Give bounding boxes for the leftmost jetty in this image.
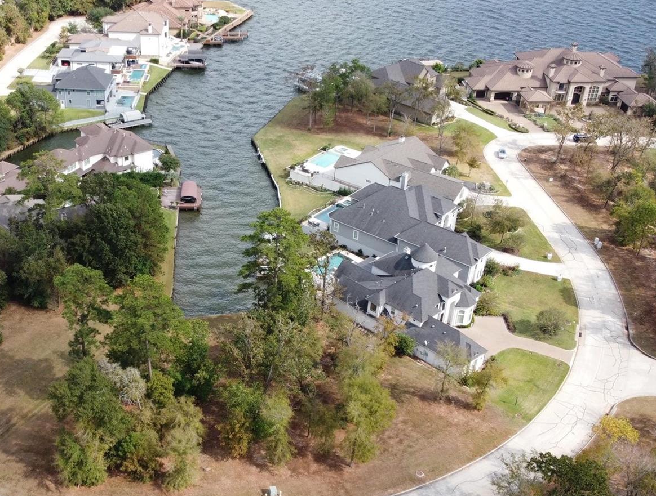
[108,113,152,132]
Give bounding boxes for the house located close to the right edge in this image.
[453,36,656,117]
